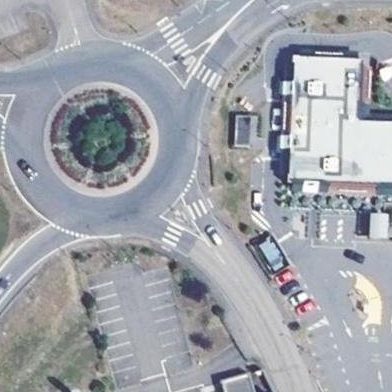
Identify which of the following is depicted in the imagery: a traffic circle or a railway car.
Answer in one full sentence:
I can see a traffic circle in this picture.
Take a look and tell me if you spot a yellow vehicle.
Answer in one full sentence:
No, the picture doesn't show any yellow vehicle.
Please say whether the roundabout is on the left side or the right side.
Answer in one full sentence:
The roundabout is on the left side of the image.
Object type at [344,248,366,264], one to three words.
car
